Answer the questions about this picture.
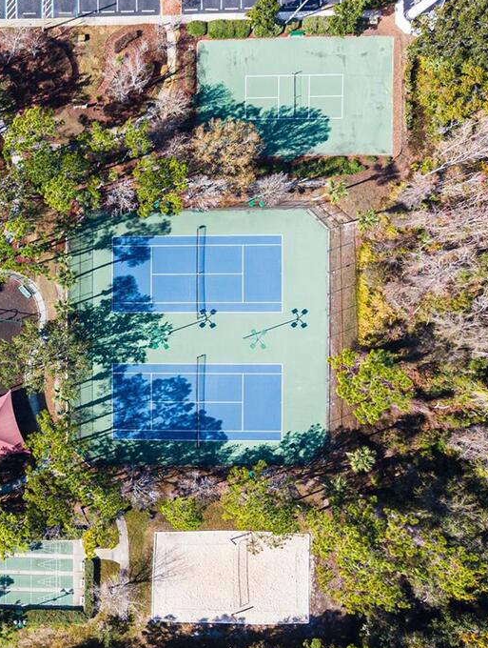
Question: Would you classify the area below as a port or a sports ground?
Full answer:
The picture captures a sports ground.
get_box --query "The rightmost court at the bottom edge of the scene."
[151,530,312,625]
